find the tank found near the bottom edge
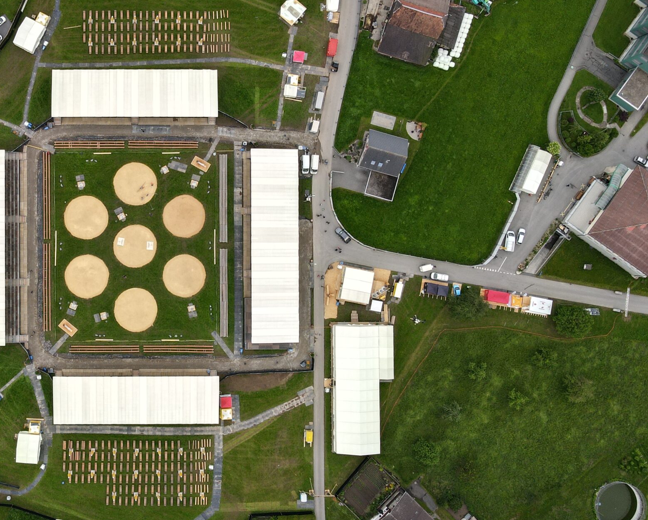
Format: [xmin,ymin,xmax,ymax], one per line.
[593,480,648,520]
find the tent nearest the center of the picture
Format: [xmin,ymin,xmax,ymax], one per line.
[336,265,376,305]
